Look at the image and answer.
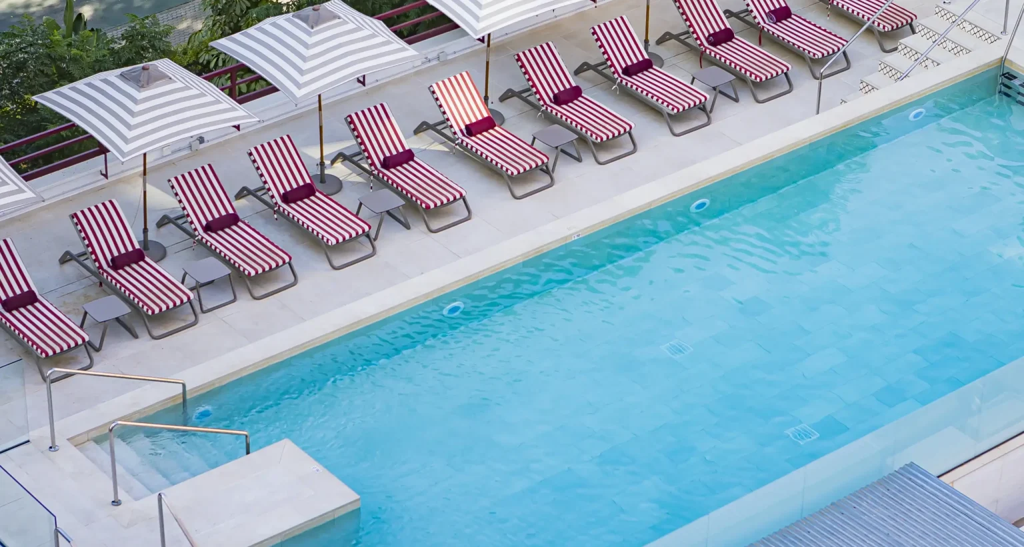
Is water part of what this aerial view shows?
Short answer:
Yes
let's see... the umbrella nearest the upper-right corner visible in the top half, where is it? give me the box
[641,0,668,67]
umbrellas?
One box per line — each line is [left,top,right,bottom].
[422,0,577,128]
[0,154,47,207]
[35,61,256,261]
[641,0,668,67]
[212,0,422,193]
